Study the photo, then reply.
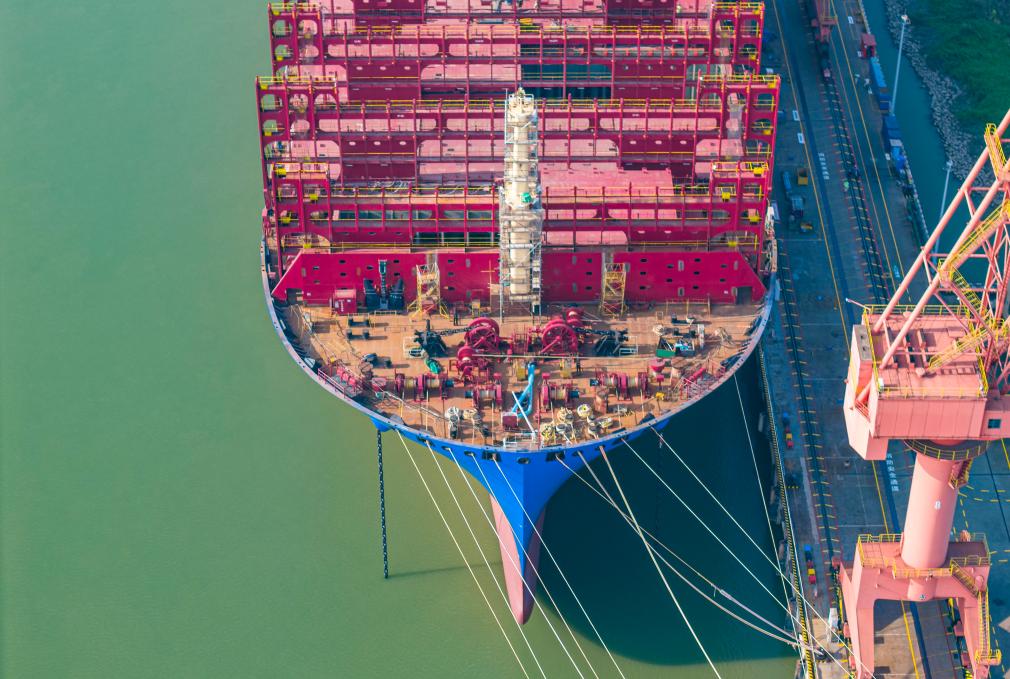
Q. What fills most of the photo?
water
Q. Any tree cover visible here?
No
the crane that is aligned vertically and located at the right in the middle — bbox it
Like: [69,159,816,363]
[829,104,1010,679]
